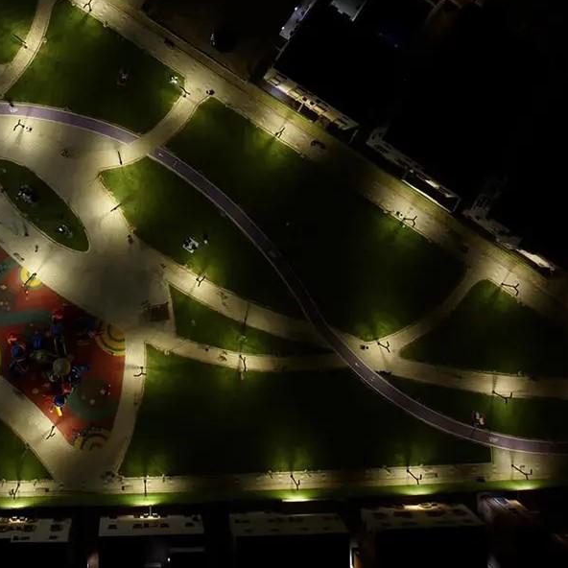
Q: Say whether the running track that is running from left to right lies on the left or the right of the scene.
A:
left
